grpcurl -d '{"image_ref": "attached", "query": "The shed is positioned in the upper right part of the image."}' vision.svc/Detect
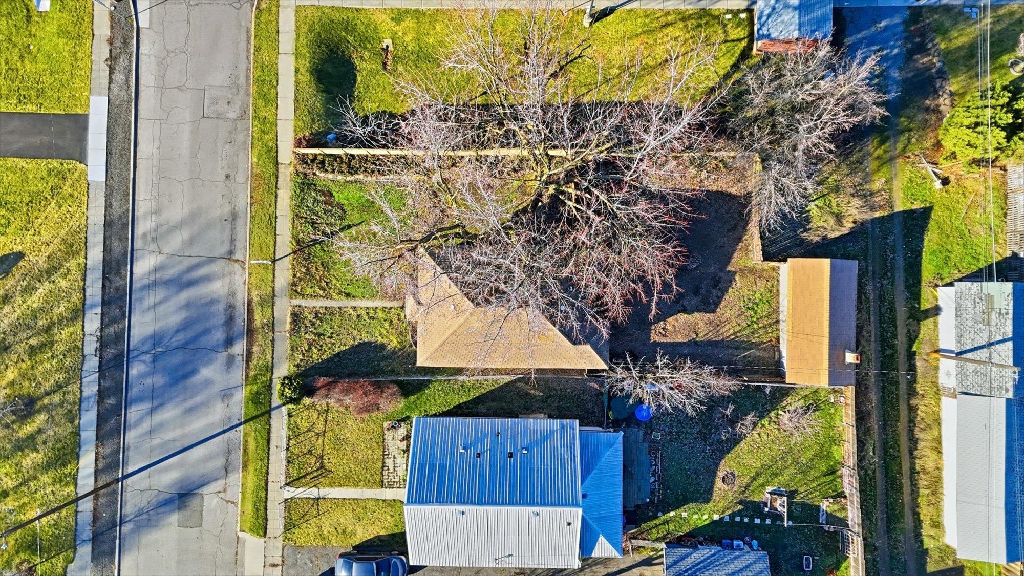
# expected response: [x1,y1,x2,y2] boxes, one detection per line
[753,0,833,53]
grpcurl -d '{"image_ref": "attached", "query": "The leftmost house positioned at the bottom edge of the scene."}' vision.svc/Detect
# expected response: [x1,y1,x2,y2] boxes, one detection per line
[403,415,624,569]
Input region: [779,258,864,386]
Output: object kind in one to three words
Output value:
building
